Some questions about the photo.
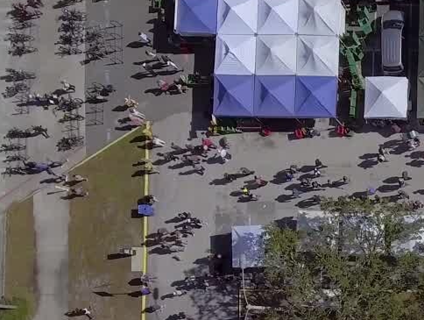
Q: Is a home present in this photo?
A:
No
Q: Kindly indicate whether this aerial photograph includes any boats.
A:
No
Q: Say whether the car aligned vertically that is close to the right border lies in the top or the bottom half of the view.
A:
top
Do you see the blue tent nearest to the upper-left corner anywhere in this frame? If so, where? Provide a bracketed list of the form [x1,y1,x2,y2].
[179,0,218,45]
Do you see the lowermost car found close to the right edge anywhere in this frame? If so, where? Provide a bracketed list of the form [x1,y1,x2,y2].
[379,12,409,76]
